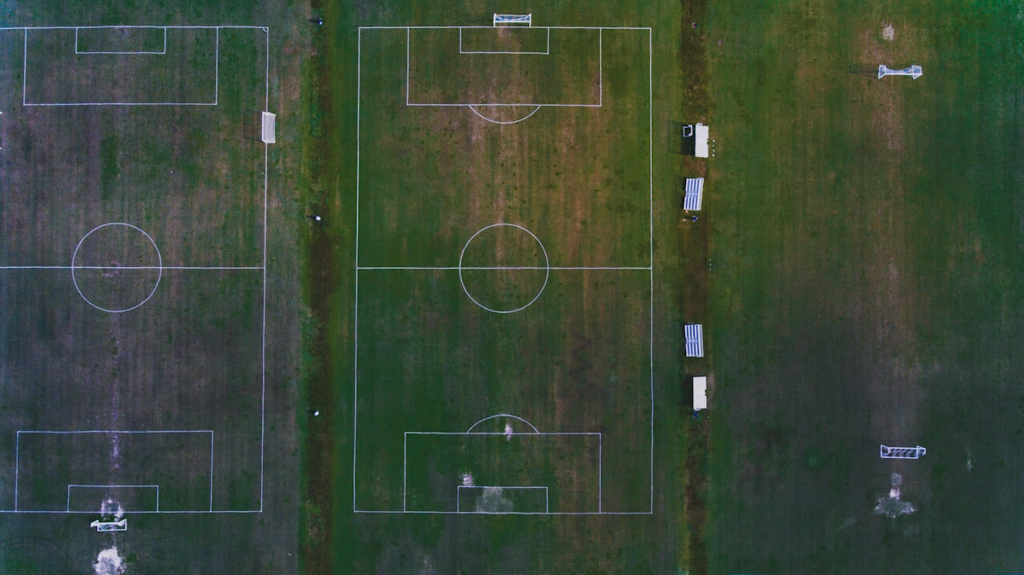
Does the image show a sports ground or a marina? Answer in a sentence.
The area seen from above is a sports ground.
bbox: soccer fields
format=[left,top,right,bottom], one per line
[0,17,282,522]
[341,17,664,522]
[724,17,1024,547]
